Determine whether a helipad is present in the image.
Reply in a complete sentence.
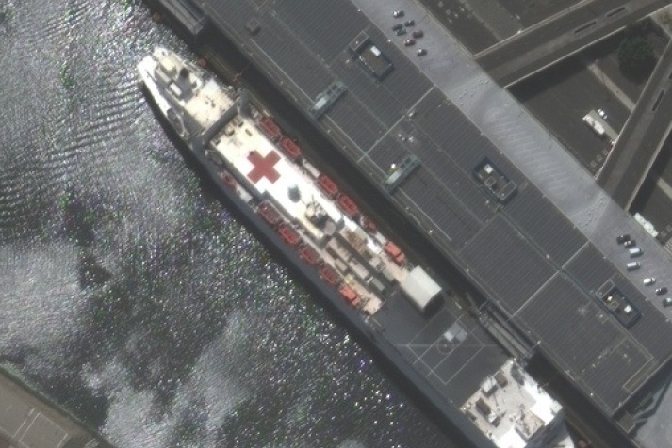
Yes, there's a helipad here.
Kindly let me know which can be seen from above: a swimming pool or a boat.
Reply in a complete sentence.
Visible in the photo is a boat.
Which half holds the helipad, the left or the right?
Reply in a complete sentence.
It is on the right.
